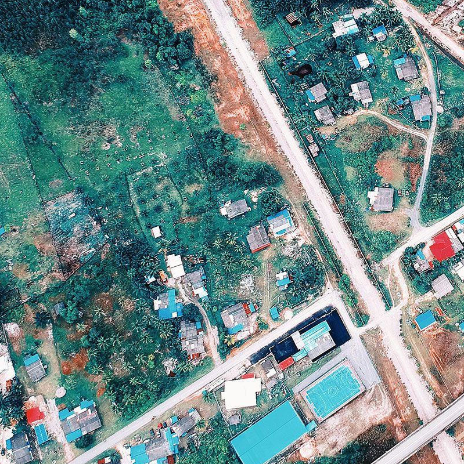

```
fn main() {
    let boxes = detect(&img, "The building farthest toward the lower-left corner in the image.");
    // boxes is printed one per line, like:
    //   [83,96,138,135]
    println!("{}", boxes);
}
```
[5,432,35,464]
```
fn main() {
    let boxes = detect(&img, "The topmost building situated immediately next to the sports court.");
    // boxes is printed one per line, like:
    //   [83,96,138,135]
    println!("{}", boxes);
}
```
[290,320,336,359]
